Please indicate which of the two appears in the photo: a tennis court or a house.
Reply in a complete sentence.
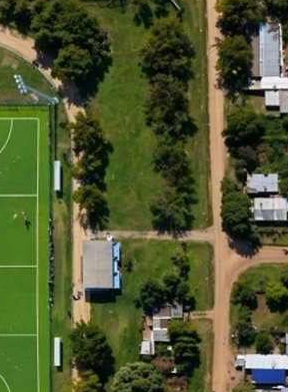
Looking from above, you can make out a house.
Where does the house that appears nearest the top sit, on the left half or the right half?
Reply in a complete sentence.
The house that appears nearest the top appears in the right half of the scene.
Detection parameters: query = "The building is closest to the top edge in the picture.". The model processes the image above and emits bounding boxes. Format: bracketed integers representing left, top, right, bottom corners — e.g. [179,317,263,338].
[251,23,282,79]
